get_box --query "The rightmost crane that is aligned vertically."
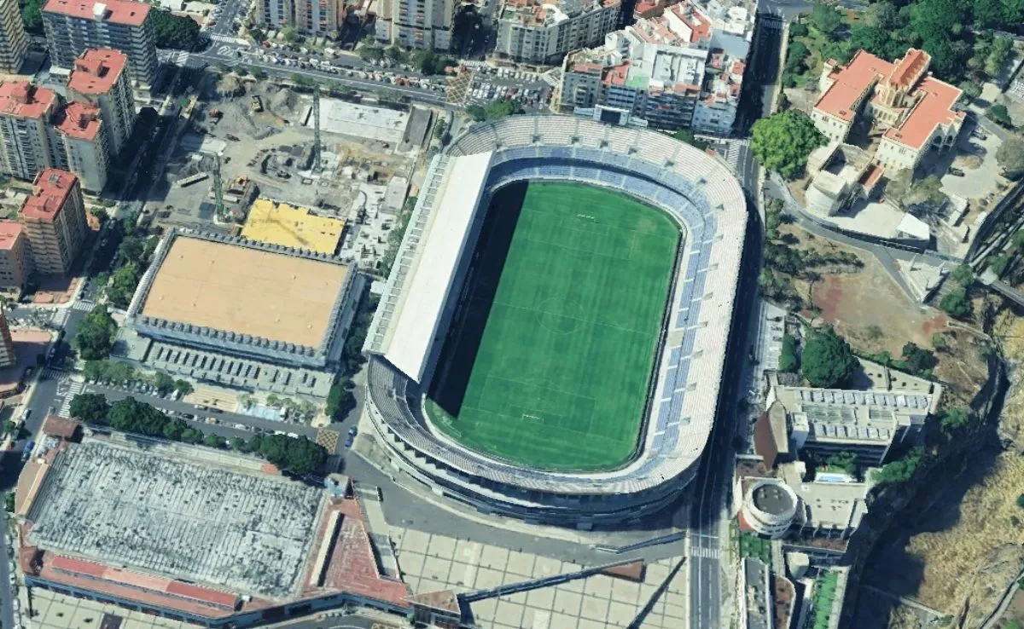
[305,70,324,174]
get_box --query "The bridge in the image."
[968,264,1024,323]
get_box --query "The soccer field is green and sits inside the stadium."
[423,180,681,471]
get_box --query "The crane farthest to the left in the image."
[207,147,227,223]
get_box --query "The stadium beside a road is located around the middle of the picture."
[356,113,747,528]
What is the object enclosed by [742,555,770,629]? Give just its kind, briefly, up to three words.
building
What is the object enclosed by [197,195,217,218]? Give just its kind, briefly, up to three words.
shed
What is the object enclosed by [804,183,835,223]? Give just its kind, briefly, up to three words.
house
